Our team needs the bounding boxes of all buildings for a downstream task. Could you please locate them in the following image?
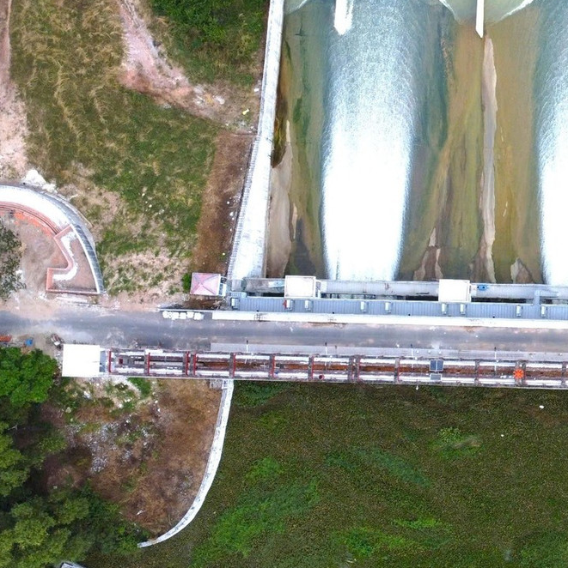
[62,344,114,377]
[190,273,227,296]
